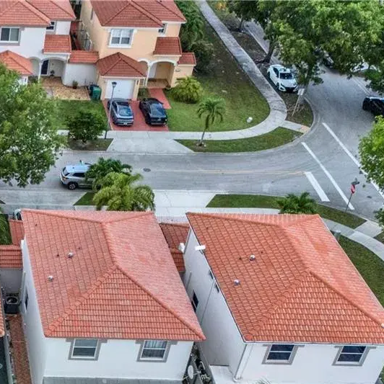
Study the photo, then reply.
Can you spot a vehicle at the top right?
Yes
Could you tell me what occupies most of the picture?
buildings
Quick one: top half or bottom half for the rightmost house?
bottom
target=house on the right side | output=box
[186,209,384,384]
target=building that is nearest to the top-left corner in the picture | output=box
[0,0,74,90]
